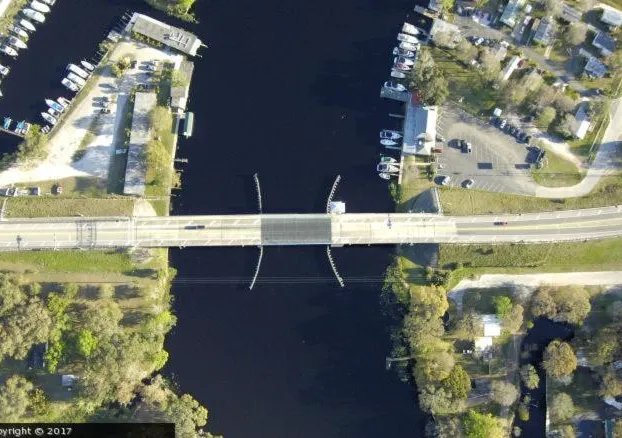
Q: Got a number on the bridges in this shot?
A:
1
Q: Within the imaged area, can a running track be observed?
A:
No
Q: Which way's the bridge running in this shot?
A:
from left to right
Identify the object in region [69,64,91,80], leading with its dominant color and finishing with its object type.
white boat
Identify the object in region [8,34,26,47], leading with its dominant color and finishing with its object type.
white boat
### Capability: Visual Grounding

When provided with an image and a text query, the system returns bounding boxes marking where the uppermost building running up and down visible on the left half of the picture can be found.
[171,61,191,107]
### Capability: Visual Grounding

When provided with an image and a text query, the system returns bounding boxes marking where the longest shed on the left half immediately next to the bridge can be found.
[122,91,158,196]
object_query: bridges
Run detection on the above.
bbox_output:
[133,189,444,267]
